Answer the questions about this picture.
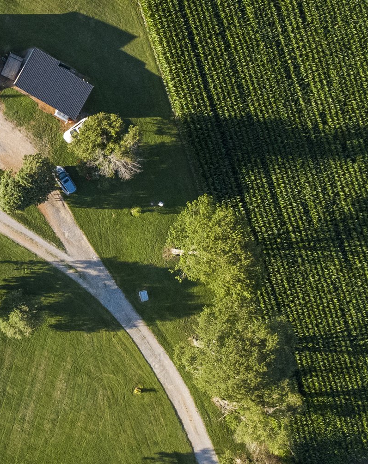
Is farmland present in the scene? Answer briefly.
Yes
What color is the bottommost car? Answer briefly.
blue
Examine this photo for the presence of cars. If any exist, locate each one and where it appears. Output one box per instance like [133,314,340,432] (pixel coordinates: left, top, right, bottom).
[62,110,94,141]
[54,165,80,199]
